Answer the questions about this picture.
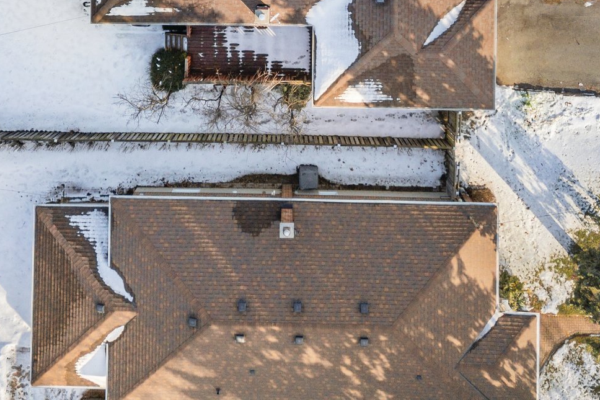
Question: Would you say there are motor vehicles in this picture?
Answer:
No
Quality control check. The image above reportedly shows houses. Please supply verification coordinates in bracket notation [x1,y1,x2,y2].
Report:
[29,177,541,400]
[90,0,498,112]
